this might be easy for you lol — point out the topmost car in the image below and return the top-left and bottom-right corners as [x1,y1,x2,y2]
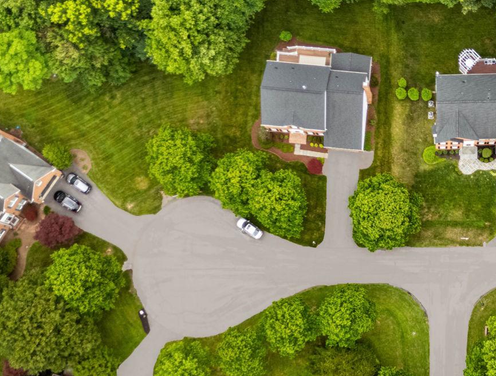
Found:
[62,171,90,194]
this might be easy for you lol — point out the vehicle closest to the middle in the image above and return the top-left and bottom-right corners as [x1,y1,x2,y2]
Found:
[235,218,261,240]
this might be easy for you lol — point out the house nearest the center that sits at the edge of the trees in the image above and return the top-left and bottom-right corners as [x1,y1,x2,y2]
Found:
[258,44,373,152]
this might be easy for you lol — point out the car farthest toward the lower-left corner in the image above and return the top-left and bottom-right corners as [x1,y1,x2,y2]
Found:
[52,190,80,212]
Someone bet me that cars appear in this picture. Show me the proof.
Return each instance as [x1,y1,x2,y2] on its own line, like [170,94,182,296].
[52,190,80,212]
[235,218,261,240]
[62,171,90,194]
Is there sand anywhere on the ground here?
No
